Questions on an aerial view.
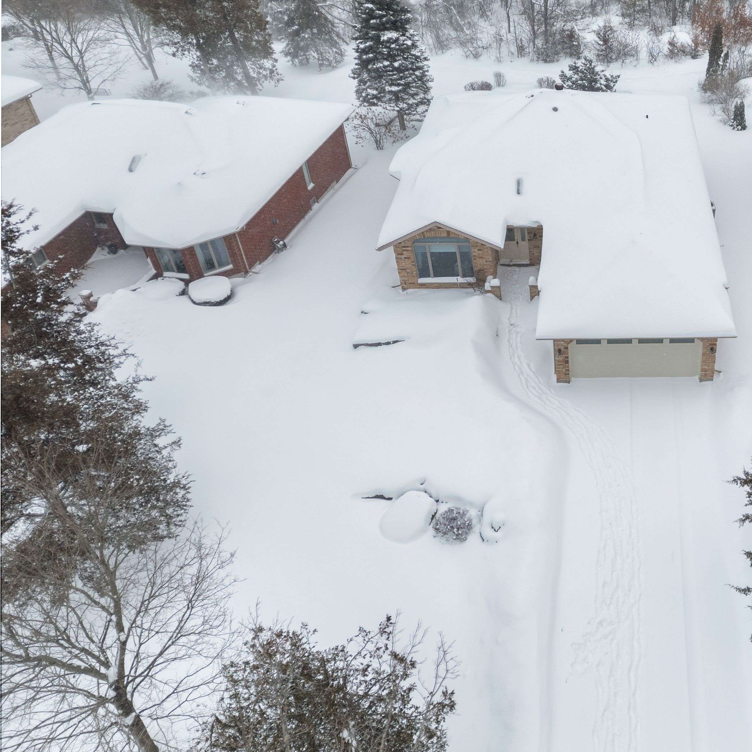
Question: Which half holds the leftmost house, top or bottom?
top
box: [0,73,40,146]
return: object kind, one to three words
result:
house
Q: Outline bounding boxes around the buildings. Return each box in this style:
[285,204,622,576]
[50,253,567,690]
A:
[377,76,739,385]
[0,87,363,329]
